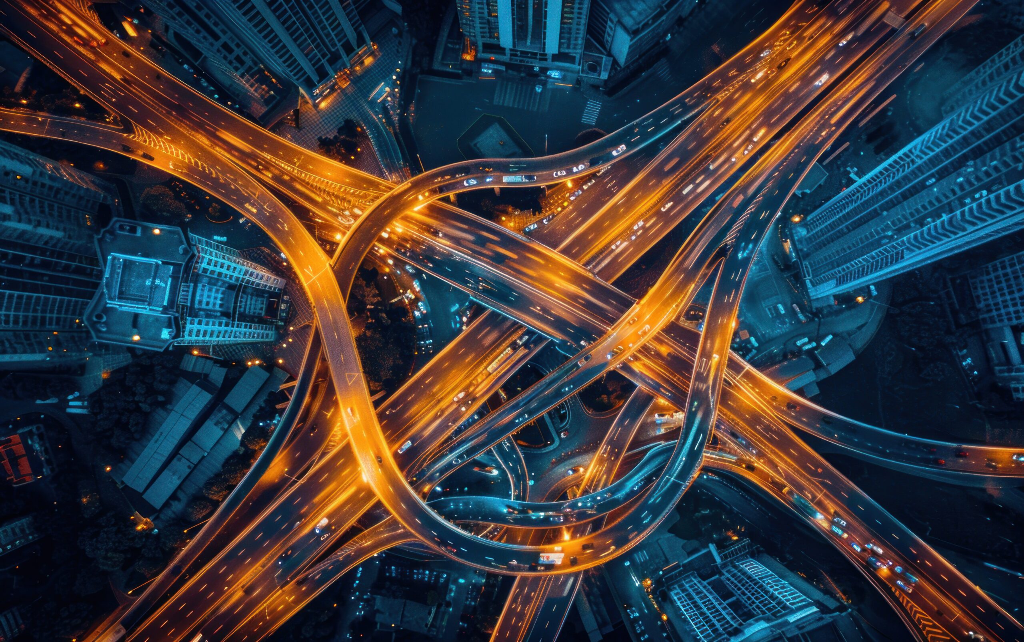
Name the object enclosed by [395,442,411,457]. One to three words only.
vehicle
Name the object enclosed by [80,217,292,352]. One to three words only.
building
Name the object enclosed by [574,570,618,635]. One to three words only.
shed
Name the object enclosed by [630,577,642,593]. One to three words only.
vehicle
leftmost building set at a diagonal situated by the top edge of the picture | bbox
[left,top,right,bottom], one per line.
[124,0,295,126]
